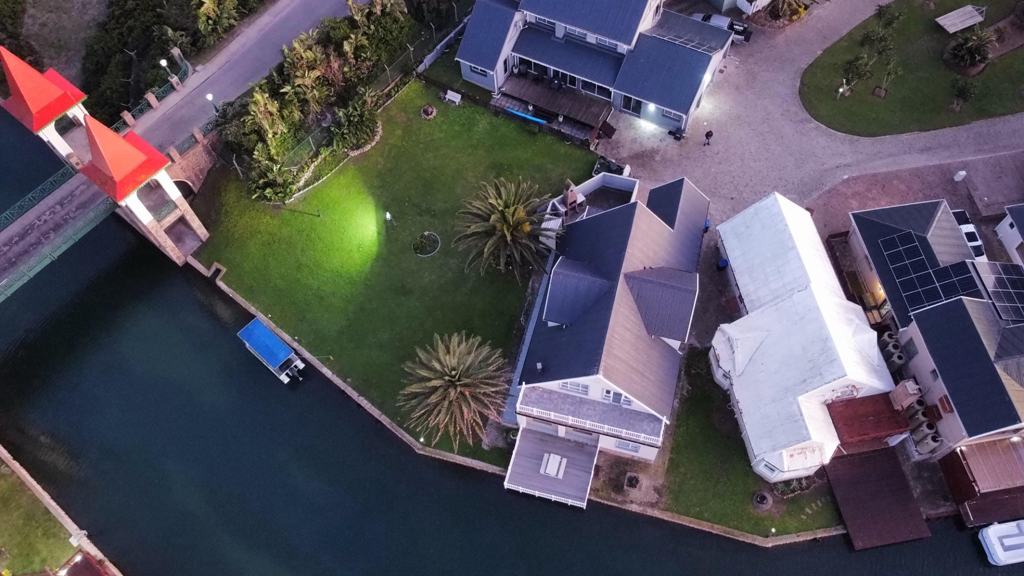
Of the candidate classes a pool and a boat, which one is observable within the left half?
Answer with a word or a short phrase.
boat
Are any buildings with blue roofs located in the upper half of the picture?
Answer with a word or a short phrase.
Yes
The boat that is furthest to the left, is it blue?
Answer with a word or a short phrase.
Yes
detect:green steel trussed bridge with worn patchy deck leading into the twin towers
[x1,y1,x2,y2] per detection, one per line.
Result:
[0,161,123,314]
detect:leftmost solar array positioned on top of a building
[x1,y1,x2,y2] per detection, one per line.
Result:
[652,30,721,57]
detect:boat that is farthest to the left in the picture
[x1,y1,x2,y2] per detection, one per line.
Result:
[238,318,312,390]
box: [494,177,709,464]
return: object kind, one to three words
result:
house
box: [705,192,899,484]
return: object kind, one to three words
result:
house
